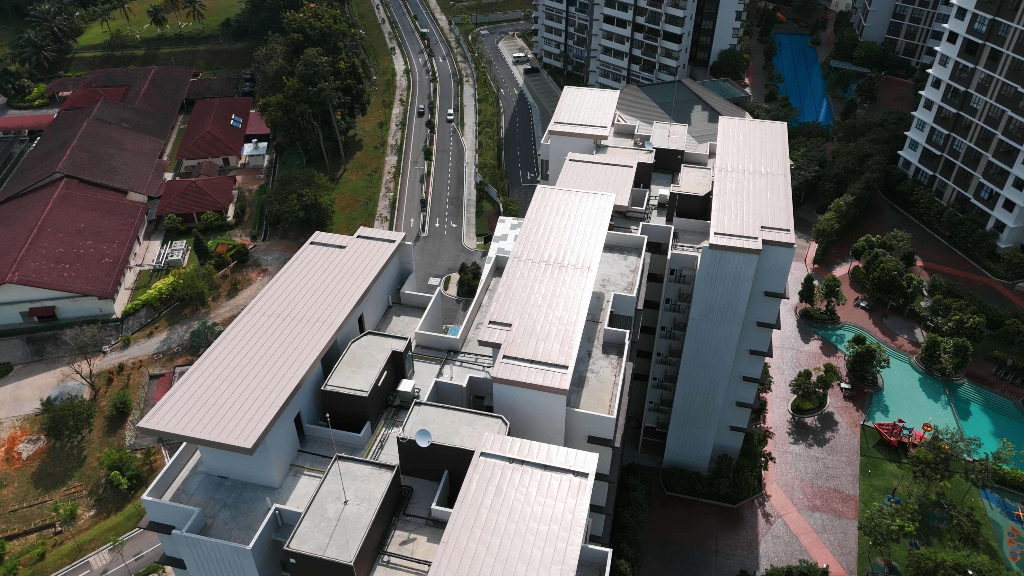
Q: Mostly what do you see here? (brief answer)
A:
buildings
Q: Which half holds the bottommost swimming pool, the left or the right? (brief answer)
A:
right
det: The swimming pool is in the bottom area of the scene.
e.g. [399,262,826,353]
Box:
[816,325,1024,468]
